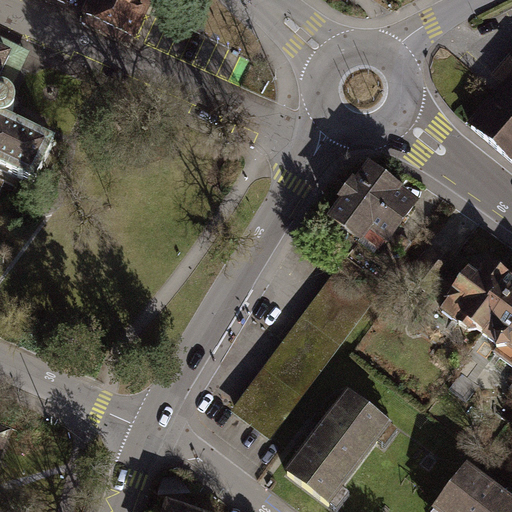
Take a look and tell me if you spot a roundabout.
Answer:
Yes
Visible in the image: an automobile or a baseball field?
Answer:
automobile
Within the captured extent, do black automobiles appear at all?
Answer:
Yes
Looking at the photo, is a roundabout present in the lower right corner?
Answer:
No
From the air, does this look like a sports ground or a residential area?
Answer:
residential area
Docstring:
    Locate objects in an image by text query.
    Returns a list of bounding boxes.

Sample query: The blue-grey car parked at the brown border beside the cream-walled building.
[260,443,278,465]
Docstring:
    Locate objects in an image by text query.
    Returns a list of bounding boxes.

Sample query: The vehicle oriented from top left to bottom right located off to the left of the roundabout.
[196,107,218,124]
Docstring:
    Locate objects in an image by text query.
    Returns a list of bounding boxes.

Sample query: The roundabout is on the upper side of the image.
[302,28,425,150]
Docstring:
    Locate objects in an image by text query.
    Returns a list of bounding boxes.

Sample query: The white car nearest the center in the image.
[265,306,282,326]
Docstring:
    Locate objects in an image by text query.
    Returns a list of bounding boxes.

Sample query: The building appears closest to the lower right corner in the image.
[431,460,512,512]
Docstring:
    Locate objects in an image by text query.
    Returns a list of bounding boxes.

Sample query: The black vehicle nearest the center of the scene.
[254,300,272,322]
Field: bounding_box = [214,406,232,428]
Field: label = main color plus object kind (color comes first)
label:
black car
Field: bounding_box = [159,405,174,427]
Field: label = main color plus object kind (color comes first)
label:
white car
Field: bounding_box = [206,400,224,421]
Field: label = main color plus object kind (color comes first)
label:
black car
